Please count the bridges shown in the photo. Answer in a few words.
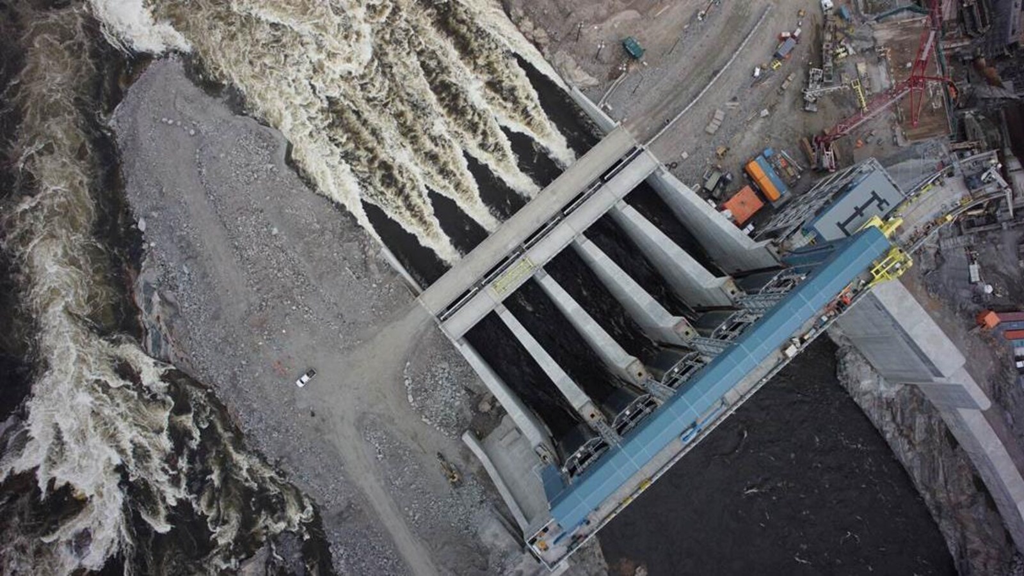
1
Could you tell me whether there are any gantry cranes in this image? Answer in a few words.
Yes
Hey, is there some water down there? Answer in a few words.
Yes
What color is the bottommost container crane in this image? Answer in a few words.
yellow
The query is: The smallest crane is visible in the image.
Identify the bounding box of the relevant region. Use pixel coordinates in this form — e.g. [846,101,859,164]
[800,69,863,110]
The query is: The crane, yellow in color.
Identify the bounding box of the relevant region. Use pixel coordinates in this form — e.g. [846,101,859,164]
[853,215,912,286]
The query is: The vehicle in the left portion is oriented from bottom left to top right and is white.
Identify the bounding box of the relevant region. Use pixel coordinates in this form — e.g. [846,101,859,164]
[294,368,317,389]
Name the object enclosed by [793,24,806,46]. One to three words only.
vehicle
